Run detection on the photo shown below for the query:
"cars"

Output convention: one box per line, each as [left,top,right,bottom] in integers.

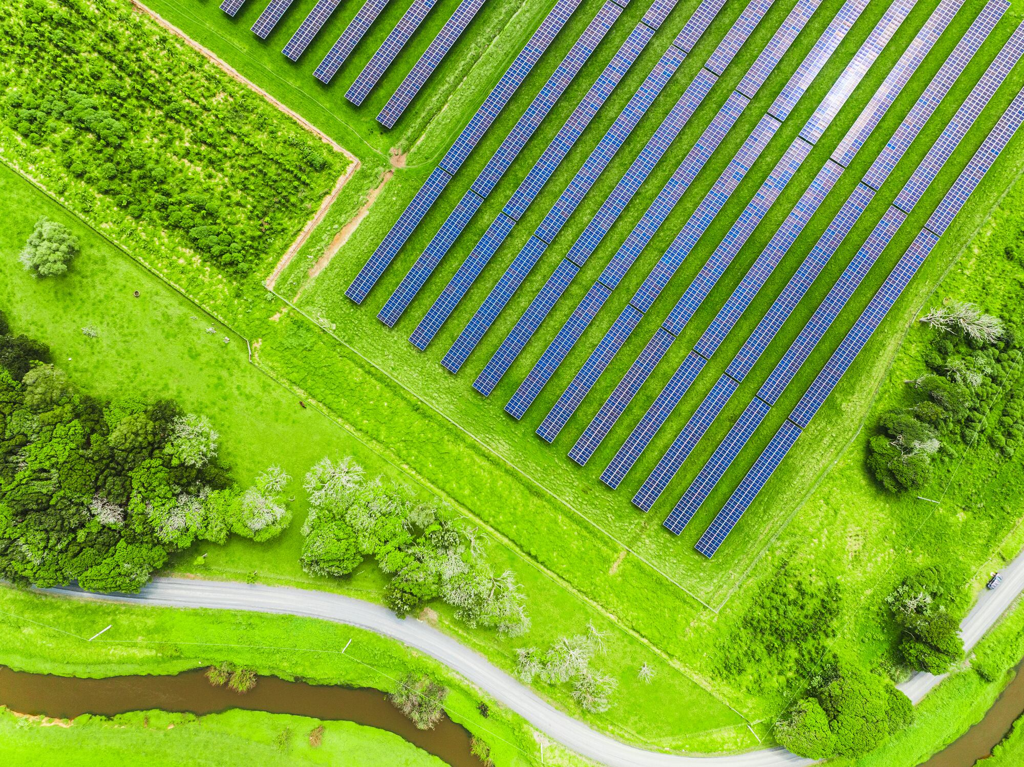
[986,572,1002,589]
